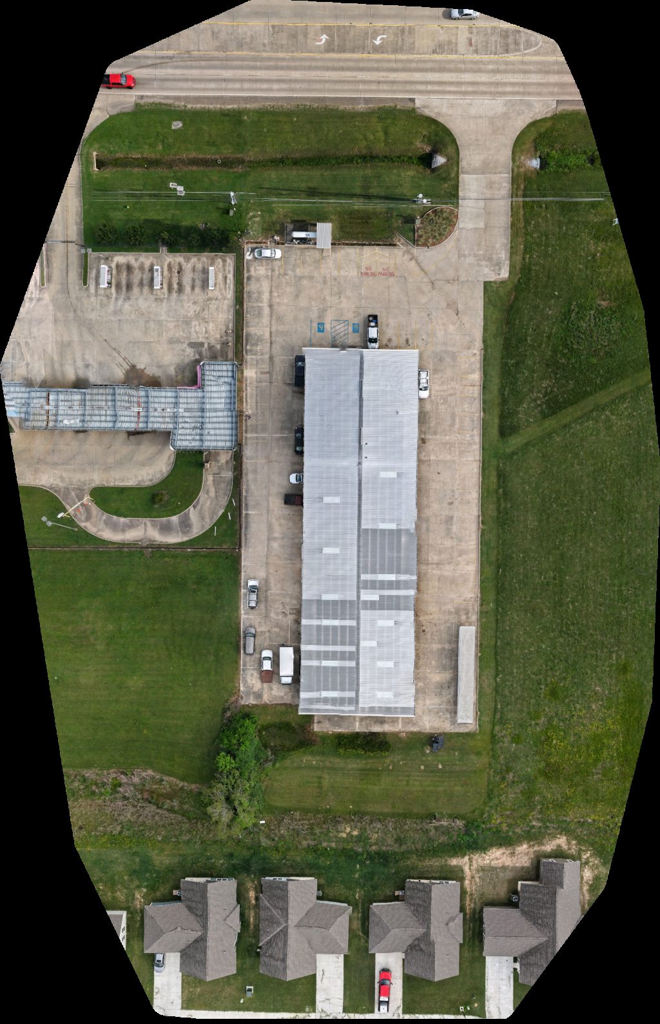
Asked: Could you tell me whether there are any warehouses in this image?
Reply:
Yes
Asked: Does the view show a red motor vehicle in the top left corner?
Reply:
Yes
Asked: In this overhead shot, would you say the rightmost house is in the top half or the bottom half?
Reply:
bottom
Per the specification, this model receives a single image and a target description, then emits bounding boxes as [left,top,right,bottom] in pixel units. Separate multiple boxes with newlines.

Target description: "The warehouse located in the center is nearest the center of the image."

[299,348,419,717]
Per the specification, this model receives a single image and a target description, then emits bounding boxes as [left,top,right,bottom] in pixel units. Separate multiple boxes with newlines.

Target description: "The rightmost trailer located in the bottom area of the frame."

[456,625,475,724]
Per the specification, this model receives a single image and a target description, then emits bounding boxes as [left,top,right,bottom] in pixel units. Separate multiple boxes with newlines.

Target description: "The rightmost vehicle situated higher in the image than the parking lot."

[450,8,480,21]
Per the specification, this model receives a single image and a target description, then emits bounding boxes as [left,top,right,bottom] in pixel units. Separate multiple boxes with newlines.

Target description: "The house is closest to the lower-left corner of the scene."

[108,907,125,948]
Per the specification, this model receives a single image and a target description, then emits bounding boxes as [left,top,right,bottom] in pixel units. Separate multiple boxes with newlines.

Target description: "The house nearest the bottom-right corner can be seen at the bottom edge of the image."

[484,859,584,989]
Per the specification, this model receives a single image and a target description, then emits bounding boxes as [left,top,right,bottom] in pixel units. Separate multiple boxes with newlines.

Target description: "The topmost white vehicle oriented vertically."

[365,314,381,349]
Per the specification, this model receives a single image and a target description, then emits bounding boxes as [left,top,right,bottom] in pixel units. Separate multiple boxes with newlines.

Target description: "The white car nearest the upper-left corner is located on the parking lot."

[253,246,282,260]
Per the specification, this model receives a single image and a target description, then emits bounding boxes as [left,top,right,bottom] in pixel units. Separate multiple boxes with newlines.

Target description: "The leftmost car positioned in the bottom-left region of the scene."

[152,953,165,972]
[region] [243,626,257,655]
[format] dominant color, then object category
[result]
gray car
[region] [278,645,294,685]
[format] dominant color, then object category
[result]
white vehicle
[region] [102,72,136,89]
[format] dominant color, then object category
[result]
red vehicle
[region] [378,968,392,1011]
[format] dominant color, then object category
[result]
red vehicle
